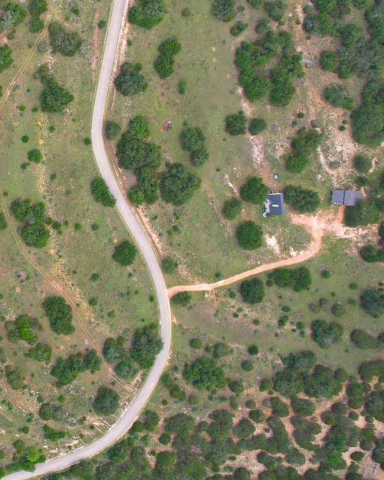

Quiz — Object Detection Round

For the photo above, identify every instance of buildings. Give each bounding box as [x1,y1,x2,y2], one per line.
[265,192,284,216]
[328,190,360,206]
